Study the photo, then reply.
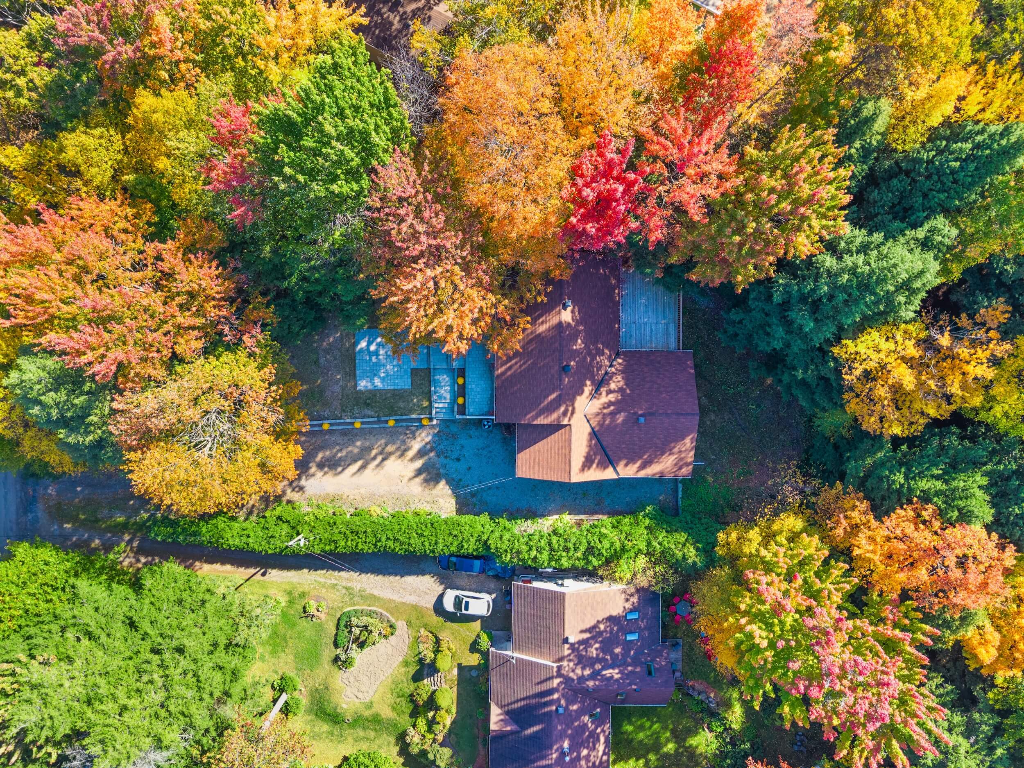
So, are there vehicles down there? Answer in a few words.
Yes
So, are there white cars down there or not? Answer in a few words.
Yes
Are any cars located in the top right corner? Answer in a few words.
No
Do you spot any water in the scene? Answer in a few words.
No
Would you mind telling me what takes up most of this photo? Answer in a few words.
trees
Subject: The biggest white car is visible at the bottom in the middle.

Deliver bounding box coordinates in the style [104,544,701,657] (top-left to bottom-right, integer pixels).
[443,588,493,615]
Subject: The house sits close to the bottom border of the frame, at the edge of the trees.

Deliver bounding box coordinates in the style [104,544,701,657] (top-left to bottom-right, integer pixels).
[488,578,675,768]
